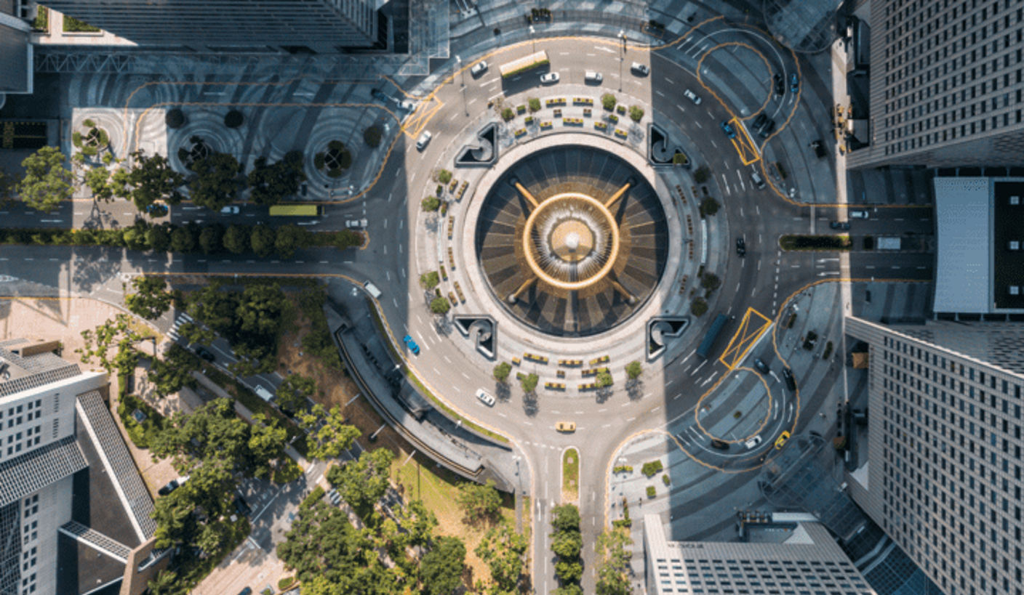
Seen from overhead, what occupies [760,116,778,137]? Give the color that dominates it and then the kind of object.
black vehicle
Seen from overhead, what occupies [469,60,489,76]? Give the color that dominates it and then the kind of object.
white car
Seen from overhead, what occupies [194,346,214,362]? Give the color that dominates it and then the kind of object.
black car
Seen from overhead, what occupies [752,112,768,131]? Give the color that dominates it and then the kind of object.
black car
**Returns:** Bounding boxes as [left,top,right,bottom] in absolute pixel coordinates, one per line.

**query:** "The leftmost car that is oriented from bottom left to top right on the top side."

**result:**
[415,130,431,149]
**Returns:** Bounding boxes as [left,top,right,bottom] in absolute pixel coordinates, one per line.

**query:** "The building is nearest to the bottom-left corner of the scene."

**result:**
[0,335,179,595]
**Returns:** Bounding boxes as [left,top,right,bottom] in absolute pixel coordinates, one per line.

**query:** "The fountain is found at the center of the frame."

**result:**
[462,131,682,351]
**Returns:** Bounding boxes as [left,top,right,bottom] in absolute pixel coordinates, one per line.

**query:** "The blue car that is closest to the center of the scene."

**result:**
[403,335,419,354]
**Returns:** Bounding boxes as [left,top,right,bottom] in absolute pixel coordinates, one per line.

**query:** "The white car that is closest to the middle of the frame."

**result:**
[475,390,494,406]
